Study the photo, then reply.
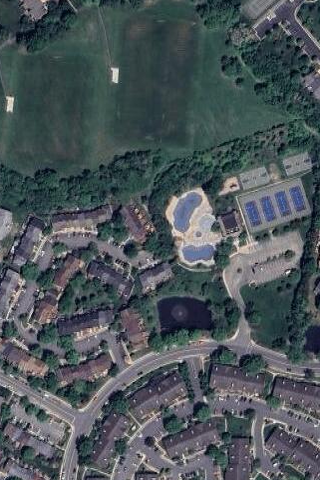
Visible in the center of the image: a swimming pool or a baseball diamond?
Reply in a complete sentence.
The feature located in the center of the image is a swimming pool.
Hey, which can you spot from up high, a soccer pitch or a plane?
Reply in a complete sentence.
Of the two, only a soccer pitch appears.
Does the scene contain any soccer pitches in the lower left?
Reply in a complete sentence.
No, the scene shows no soccer pitch in the lower left.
